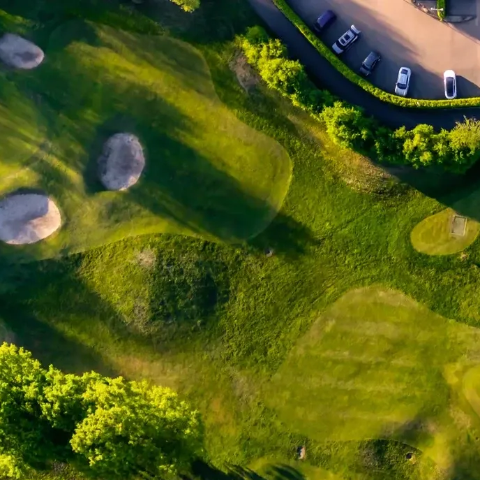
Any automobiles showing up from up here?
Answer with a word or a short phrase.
Yes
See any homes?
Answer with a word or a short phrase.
No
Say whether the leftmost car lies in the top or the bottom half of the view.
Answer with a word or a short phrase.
top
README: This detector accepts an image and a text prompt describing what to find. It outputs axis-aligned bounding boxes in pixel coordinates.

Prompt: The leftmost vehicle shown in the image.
[313,8,337,35]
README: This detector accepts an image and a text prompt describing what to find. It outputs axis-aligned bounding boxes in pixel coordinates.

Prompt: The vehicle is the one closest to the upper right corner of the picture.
[444,71,457,100]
